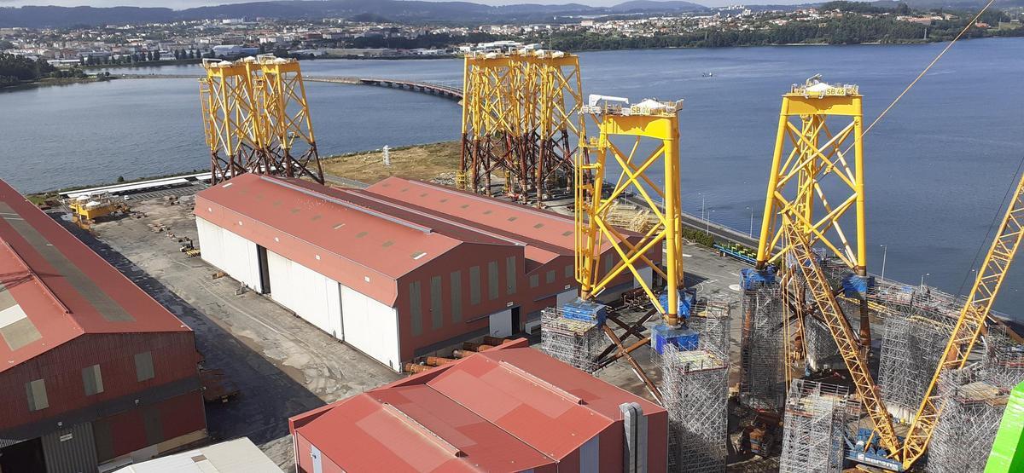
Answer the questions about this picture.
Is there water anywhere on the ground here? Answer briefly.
Yes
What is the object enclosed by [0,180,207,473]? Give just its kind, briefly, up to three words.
building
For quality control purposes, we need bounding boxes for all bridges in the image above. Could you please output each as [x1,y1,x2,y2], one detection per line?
[356,81,474,103]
